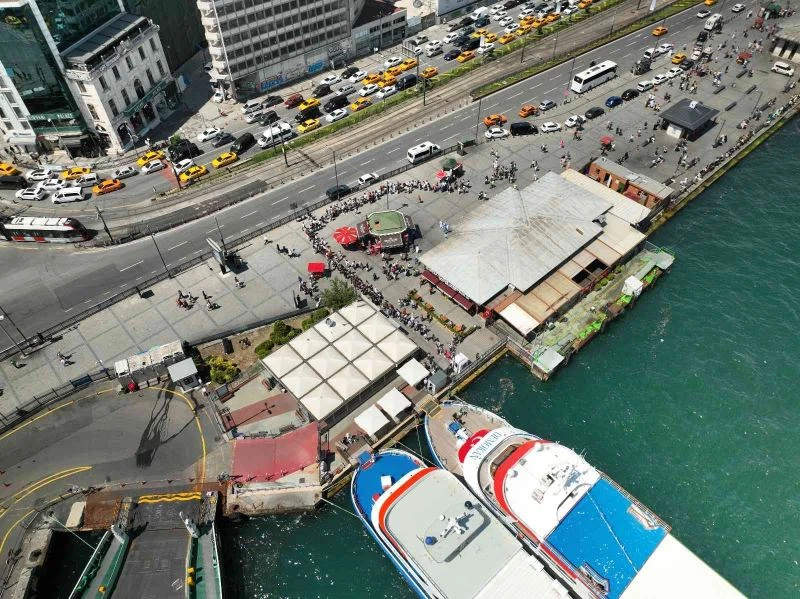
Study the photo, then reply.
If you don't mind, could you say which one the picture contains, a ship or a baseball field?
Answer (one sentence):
There is a ship in the scene.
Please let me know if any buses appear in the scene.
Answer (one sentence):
Yes, a bus can be made out from above.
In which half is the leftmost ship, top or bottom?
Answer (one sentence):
The leftmost ship is in the bottom half of the image.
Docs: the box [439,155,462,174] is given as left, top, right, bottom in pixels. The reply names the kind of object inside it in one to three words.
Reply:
umbrella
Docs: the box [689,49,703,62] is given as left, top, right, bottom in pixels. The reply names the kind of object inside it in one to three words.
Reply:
vehicle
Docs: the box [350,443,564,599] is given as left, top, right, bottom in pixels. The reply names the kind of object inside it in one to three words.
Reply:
ship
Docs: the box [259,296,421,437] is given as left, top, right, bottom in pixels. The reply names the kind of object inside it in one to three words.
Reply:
building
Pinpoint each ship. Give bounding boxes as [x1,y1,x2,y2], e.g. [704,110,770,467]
[62,497,228,599]
[350,443,564,599]
[412,393,766,599]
